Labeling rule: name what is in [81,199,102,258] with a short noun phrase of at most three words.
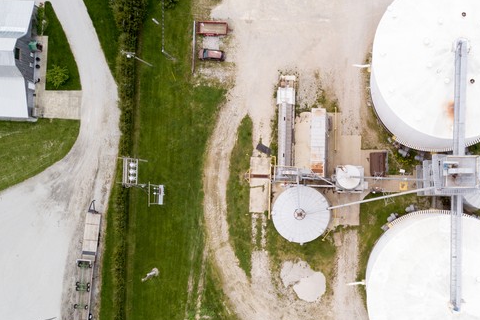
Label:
trailer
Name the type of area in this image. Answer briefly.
industrial area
